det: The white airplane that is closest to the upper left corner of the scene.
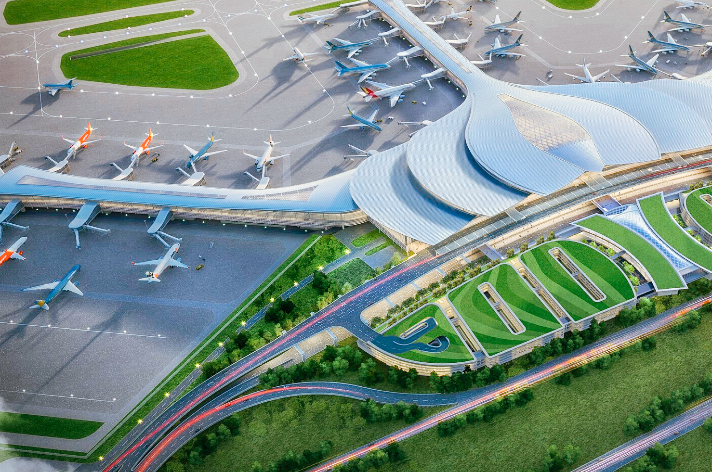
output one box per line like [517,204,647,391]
[59,122,106,155]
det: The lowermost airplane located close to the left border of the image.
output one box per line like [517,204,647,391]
[25,266,83,309]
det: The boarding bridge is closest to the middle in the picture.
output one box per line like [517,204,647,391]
[343,143,386,160]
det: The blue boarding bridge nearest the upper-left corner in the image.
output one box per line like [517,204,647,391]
[0,203,32,245]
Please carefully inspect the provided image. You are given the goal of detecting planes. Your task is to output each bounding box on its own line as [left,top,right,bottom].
[44,80,76,95]
[59,122,106,155]
[440,6,473,20]
[675,0,707,8]
[185,135,226,168]
[569,59,604,82]
[337,59,389,79]
[664,12,705,31]
[0,239,27,266]
[339,105,382,132]
[621,47,658,76]
[325,38,371,54]
[129,245,186,282]
[485,13,522,32]
[122,129,168,160]
[485,37,523,56]
[647,32,691,53]
[296,12,334,24]
[361,82,414,103]
[241,136,293,172]
[25,266,83,309]
[284,47,322,63]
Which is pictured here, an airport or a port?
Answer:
airport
